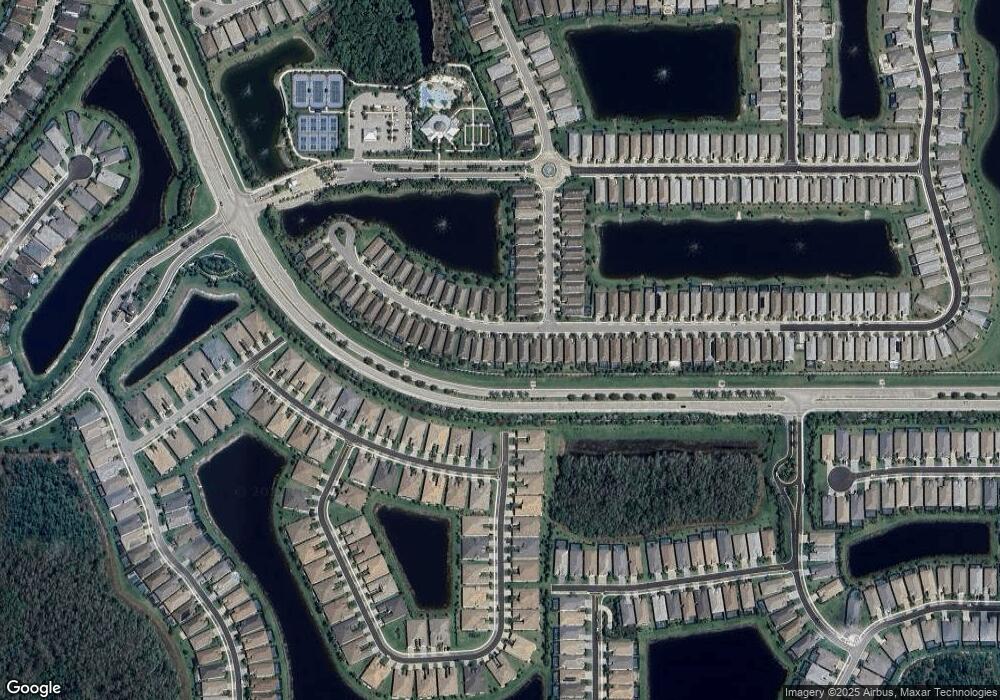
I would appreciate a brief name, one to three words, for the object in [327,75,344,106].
tennis court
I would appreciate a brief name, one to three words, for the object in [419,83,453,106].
swimming pool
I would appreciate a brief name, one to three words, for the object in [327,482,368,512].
house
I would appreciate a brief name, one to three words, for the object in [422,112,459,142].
building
